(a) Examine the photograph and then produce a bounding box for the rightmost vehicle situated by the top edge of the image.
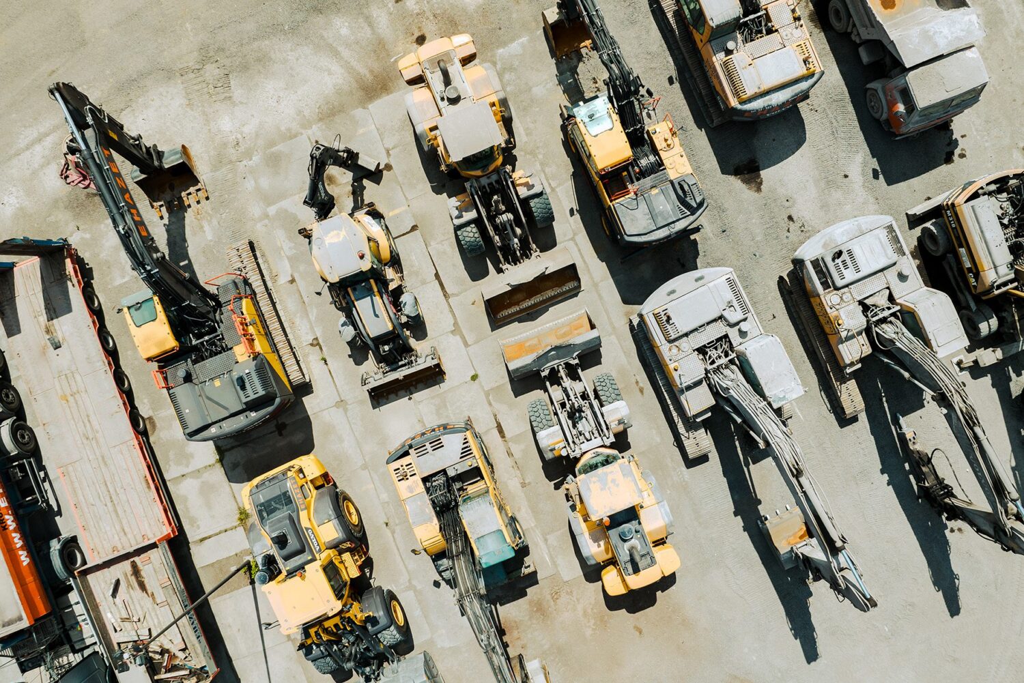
[827,0,987,149]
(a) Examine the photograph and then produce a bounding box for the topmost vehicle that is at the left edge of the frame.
[44,78,315,440]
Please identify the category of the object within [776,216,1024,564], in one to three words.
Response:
work vehicle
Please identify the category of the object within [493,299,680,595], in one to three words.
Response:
work vehicle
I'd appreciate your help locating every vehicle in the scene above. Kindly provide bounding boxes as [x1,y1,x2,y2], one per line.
[627,267,883,613]
[540,0,707,249]
[44,78,315,440]
[242,450,442,683]
[776,216,1024,564]
[399,34,586,322]
[293,134,446,406]
[0,352,116,683]
[827,0,987,149]
[386,416,541,683]
[902,168,1024,374]
[493,299,680,595]
[651,0,824,126]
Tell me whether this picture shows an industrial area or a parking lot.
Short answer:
parking lot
